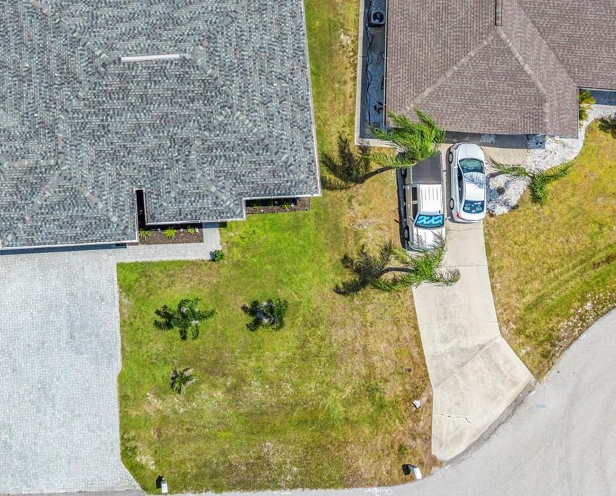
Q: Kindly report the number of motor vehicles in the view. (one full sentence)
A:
There are 2 motor vehicles in the image.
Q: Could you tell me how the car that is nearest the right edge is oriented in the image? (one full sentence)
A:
In this picture, the car that is nearest the right edge lies from top to bottom.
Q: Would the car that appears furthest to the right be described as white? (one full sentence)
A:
Yes, white is the color of the car that appears furthest to the right.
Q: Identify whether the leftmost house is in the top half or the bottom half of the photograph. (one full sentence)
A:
The leftmost house sits in the top half of the picture.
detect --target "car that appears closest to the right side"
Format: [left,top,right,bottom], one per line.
[446,145,487,228]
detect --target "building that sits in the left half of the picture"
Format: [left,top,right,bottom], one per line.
[0,0,326,251]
